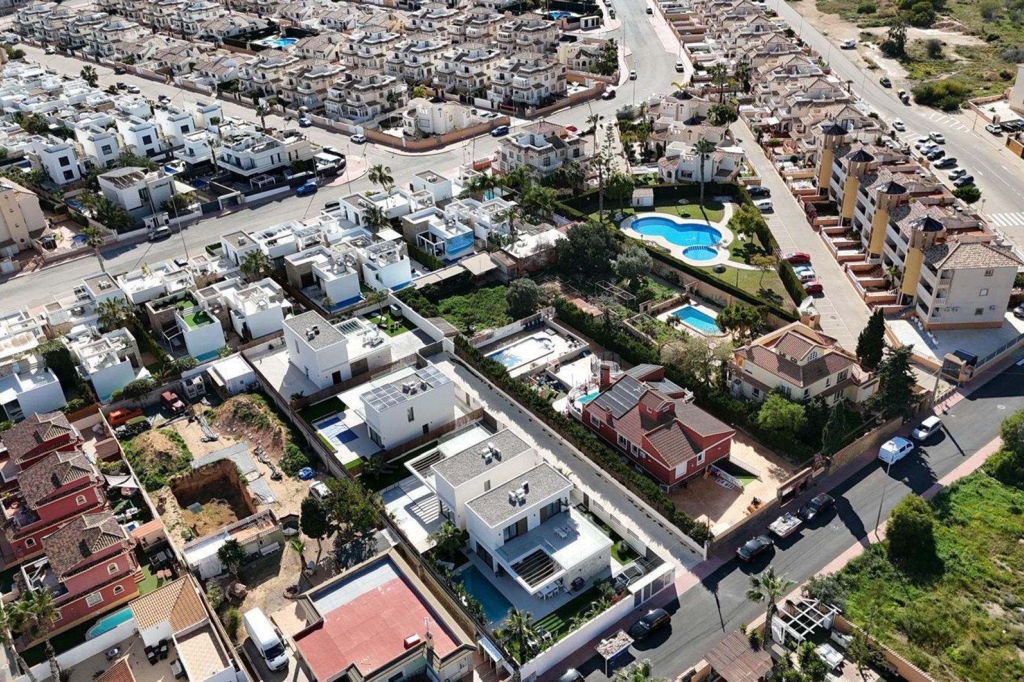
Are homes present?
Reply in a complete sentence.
Yes, the frame does contain a home.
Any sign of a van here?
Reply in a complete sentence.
Yes, the frame does contain a van.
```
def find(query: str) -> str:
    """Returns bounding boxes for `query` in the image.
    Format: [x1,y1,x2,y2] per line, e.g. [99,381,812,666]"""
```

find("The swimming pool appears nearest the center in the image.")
[494,333,564,369]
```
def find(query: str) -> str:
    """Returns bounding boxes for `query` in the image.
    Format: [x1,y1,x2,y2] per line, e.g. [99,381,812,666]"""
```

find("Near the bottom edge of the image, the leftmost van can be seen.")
[237,601,287,669]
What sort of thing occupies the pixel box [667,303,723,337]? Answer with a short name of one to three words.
swimming pool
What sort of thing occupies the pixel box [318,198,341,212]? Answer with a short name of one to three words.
car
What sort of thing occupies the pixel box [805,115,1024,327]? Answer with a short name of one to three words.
building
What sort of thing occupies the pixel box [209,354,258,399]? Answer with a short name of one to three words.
house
